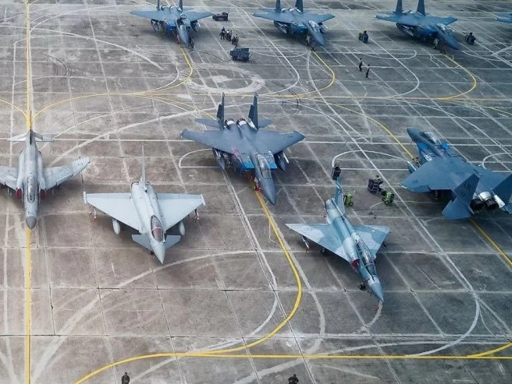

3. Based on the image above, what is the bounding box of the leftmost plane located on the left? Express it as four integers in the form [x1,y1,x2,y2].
[0,130,88,229]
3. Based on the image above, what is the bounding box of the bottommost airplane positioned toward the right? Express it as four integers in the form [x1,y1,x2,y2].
[286,180,387,308]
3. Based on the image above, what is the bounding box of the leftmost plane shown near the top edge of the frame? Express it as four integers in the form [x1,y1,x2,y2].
[129,0,211,47]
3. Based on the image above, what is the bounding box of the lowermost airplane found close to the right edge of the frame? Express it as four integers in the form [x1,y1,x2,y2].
[401,130,512,223]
